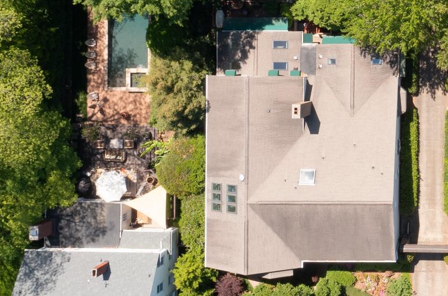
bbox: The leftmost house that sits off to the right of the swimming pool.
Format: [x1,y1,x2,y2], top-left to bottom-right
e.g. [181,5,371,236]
[205,18,406,278]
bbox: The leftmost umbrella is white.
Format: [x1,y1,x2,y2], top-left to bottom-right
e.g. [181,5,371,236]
[90,173,122,200]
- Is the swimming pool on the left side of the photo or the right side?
left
